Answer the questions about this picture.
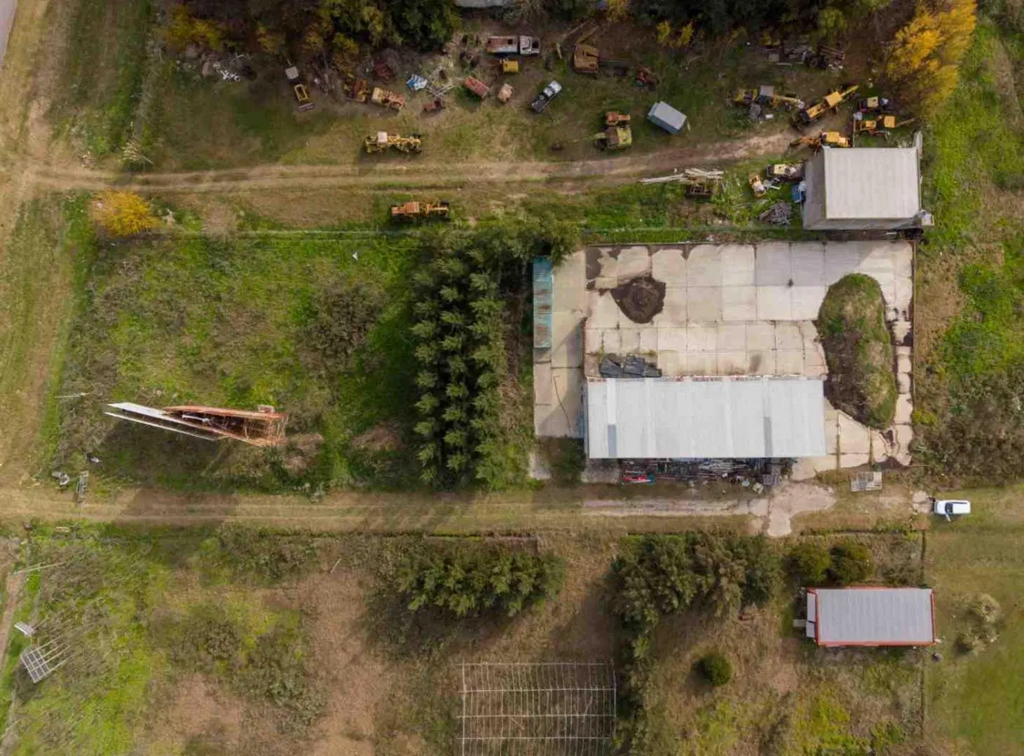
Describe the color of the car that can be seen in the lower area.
white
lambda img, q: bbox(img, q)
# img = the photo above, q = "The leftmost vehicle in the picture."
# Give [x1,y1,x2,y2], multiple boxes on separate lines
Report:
[292,81,315,112]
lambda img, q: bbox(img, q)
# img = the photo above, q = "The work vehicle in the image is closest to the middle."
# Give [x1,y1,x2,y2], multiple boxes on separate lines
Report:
[391,200,449,220]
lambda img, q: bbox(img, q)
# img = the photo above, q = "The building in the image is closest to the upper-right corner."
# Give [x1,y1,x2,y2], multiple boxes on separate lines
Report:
[806,146,920,229]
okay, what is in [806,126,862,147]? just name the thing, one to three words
work vehicle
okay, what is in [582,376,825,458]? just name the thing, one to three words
shed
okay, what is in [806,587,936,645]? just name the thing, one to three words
building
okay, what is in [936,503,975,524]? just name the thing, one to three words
car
